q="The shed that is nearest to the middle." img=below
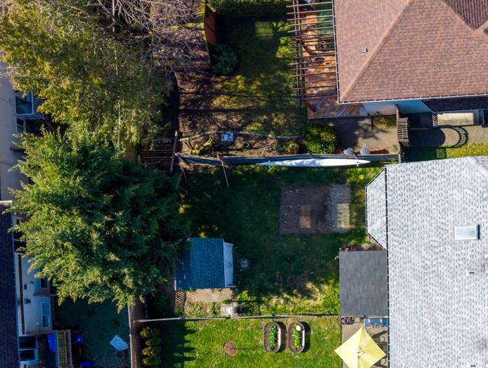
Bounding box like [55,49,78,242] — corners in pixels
[174,236,236,290]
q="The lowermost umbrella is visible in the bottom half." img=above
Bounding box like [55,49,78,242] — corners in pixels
[334,327,385,368]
